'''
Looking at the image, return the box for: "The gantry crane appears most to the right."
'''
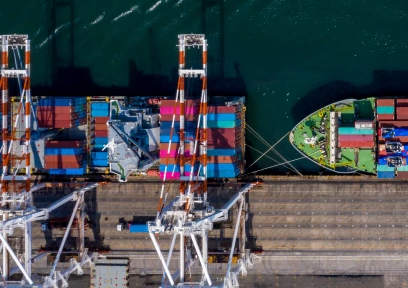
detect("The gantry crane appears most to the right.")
[147,31,263,288]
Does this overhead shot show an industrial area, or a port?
port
